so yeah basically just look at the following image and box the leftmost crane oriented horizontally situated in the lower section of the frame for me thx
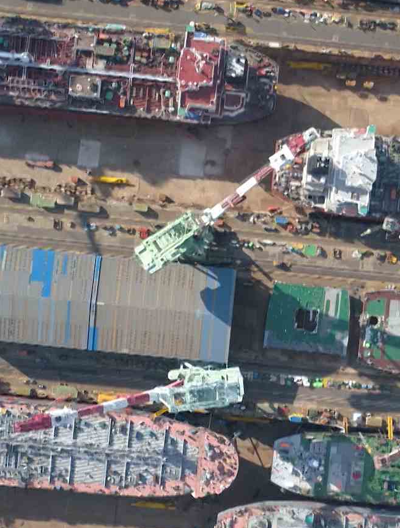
[7,357,249,425]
